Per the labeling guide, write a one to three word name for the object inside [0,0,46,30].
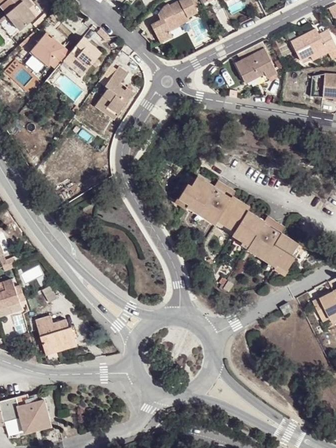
house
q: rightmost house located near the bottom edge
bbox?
[16,396,52,437]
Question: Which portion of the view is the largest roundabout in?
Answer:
bottom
